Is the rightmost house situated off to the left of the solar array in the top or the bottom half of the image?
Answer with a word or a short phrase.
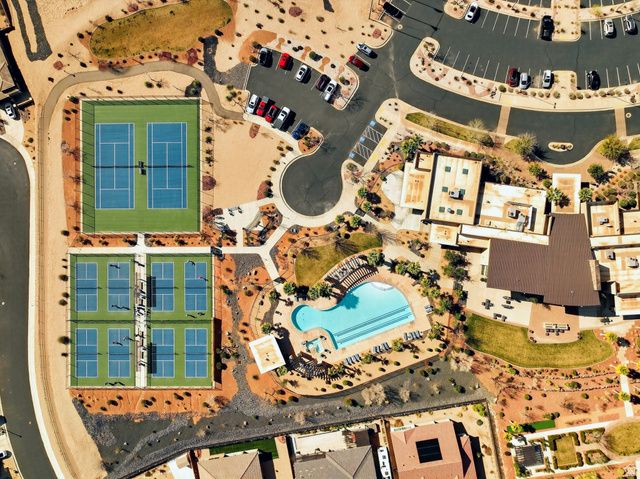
bottom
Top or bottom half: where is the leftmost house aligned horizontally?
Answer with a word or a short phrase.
bottom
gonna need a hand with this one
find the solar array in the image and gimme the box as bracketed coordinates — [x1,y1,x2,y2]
[416,438,442,463]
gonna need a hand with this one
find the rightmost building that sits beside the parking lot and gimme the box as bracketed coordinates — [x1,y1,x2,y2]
[397,151,640,316]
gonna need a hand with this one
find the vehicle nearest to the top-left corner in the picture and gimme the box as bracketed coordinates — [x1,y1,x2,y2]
[4,102,19,120]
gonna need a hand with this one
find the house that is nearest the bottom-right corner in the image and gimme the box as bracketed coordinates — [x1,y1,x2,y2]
[390,418,476,479]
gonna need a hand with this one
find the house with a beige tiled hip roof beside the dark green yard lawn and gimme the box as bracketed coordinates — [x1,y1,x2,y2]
[198,450,265,479]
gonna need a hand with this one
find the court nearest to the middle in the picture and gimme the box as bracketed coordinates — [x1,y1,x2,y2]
[182,263,208,311]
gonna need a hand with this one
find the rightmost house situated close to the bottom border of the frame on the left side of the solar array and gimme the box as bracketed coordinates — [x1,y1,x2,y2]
[294,443,377,479]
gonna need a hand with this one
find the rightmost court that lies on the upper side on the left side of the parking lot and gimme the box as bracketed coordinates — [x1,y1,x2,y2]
[144,123,190,209]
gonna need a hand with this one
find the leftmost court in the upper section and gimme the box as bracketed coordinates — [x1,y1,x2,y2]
[90,123,137,209]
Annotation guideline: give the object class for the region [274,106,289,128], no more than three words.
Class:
vehicle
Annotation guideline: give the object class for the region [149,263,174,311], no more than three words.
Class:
sports court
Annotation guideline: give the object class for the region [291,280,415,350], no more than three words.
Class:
swimming pool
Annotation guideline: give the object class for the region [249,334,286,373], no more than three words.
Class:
building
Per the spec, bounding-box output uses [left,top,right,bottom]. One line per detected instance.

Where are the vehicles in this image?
[508,68,518,86]
[0,450,10,460]
[292,120,307,140]
[4,102,19,120]
[603,18,614,36]
[542,69,552,88]
[296,64,307,82]
[258,48,269,66]
[316,73,328,92]
[349,56,367,70]
[382,2,404,19]
[358,43,376,57]
[624,15,636,34]
[466,2,478,21]
[279,52,290,70]
[542,16,552,39]
[589,71,599,89]
[266,104,278,123]
[274,106,289,128]
[256,95,268,116]
[325,79,338,100]
[248,94,258,113]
